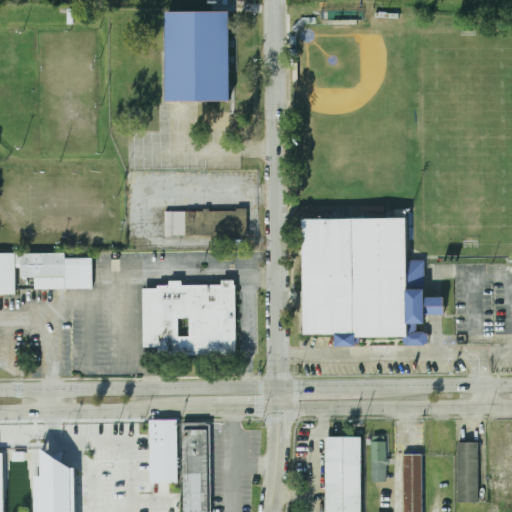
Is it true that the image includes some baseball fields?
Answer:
Yes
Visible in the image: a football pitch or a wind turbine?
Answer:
football pitch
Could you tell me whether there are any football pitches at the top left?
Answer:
Yes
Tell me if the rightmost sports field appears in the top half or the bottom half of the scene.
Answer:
top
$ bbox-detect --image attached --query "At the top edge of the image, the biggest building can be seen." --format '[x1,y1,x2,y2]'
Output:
[165,12,231,101]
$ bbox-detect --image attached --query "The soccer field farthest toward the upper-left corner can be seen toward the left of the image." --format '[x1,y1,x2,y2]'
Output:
[40,26,106,153]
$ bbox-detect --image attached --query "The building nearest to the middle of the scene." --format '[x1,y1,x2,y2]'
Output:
[186,208,248,235]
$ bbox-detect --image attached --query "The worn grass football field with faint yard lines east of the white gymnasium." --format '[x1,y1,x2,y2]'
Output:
[424,44,512,248]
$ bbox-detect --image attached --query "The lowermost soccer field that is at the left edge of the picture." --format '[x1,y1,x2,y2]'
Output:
[2,166,120,240]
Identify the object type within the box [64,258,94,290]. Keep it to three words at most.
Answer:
building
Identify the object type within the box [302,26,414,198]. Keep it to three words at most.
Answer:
baseball field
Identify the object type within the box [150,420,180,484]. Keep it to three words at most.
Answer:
building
